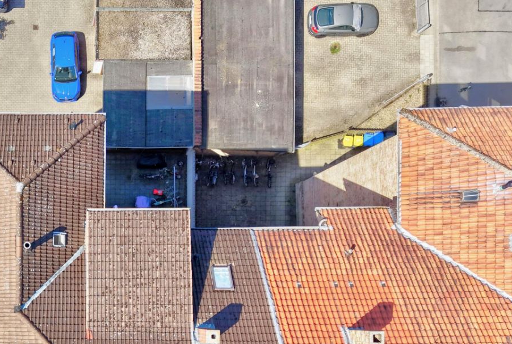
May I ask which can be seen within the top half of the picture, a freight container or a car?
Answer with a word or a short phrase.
car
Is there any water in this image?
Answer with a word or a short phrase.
No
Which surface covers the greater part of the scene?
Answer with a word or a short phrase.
buildings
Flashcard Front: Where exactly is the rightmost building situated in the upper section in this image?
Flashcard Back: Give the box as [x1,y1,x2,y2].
[196,0,296,158]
